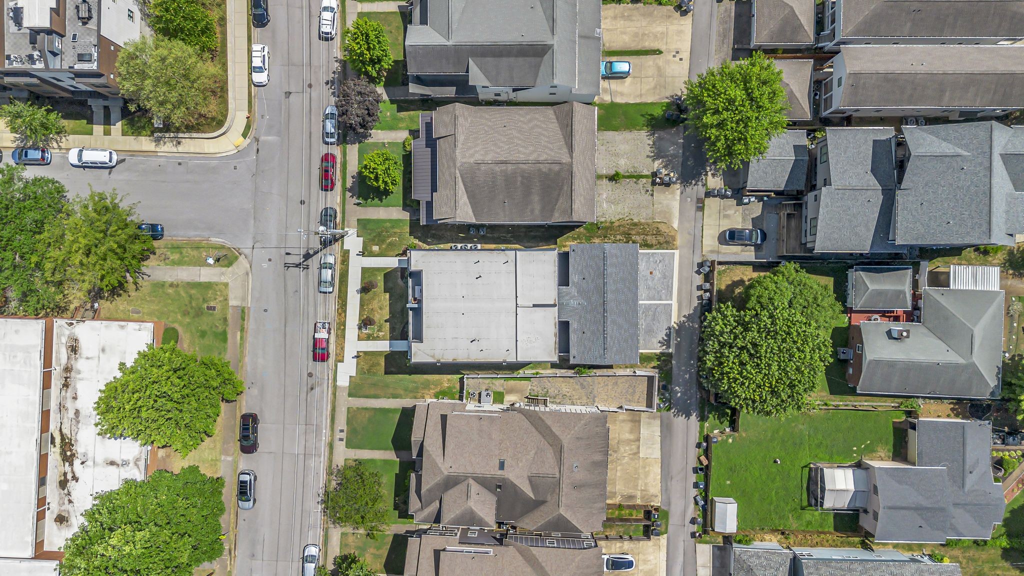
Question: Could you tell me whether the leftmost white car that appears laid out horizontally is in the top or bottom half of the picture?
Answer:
top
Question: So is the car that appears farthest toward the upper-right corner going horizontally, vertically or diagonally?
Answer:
horizontally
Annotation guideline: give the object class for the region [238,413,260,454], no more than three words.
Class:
car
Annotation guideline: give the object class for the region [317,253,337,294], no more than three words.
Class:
car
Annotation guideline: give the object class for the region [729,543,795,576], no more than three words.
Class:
building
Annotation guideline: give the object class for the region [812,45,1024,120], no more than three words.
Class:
house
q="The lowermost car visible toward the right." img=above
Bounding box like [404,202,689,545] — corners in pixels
[601,553,637,574]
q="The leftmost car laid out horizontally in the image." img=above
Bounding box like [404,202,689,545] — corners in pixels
[12,148,53,165]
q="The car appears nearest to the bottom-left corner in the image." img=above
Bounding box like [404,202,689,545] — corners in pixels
[238,470,257,510]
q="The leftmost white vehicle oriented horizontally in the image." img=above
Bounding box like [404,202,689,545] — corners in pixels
[70,147,118,168]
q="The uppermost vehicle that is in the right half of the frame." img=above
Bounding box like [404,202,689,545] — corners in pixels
[601,58,632,79]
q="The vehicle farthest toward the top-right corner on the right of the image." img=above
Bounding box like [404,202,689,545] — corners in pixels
[722,226,765,246]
